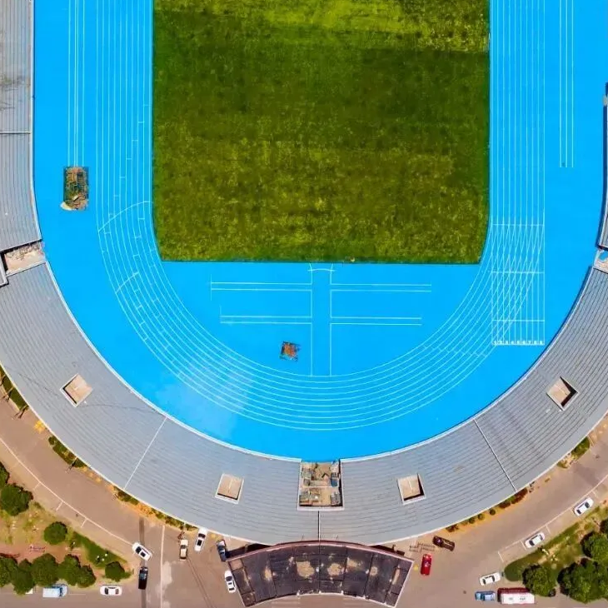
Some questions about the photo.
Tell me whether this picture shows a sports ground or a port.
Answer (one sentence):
This looks like a sports ground.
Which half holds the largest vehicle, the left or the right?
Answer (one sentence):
The largest vehicle appears in the right half of the scene.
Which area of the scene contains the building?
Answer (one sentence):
You can find the building in the bottom area of the picture.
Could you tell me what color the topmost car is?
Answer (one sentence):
The topmost car looks white in the image.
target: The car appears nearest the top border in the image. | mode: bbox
[572,496,594,515]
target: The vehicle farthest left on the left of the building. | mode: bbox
[41,585,69,602]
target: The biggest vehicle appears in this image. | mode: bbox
[498,587,537,607]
